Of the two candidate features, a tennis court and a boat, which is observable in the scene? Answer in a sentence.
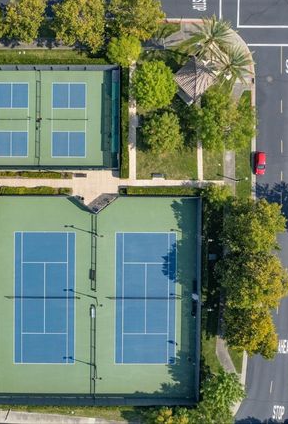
Of the two, only a tennis court appears.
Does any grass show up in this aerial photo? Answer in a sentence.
Yes, the picture does contain grass.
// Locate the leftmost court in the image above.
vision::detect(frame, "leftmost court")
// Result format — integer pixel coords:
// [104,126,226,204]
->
[0,70,41,168]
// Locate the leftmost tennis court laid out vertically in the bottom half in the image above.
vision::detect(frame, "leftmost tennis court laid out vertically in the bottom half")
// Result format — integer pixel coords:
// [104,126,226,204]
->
[0,194,94,399]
